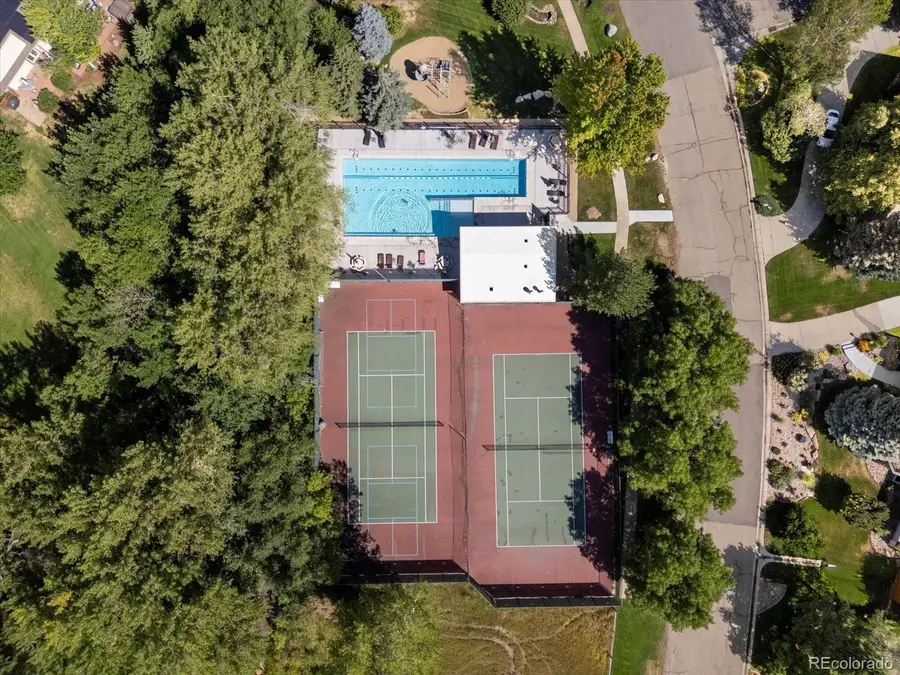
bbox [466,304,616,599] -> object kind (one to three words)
tennis court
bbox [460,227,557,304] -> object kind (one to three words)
building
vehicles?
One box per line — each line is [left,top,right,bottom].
[819,105,845,145]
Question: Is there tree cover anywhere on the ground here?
Yes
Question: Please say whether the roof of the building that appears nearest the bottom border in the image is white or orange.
white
